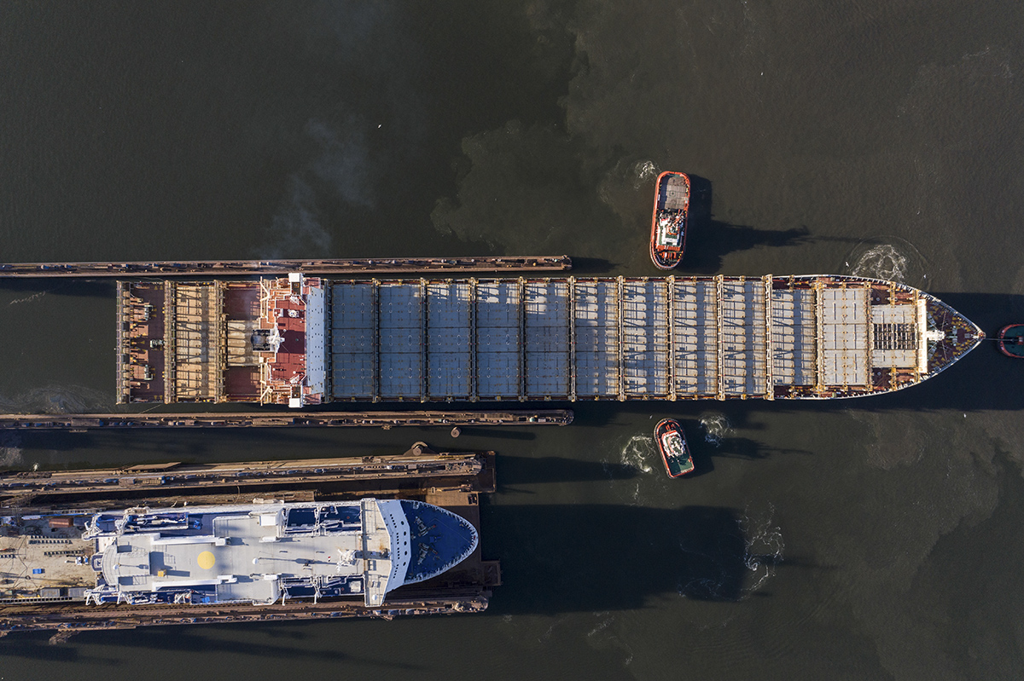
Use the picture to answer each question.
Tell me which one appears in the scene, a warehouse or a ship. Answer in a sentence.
I can see a ship in this picture.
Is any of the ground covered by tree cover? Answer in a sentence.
No, there's no tree cover in this view.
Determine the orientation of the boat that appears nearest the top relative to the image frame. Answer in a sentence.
The boat that appears nearest the top is oriented vertically.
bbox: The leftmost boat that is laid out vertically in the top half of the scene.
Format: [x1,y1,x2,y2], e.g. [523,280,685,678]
[648,171,693,270]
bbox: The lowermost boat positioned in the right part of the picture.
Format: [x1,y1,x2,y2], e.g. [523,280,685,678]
[654,416,701,483]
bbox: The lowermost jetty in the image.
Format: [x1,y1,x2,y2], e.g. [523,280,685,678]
[0,436,503,639]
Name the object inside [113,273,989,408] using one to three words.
ship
